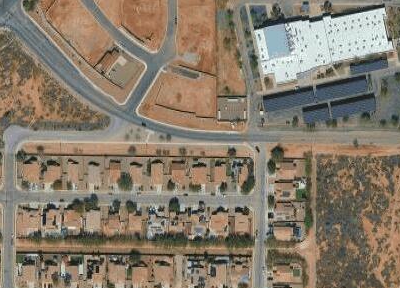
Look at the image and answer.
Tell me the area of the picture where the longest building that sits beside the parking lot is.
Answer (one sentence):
Look in the top right portion of the view to spot the longest building that sits beside the parking lot.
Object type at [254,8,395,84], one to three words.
building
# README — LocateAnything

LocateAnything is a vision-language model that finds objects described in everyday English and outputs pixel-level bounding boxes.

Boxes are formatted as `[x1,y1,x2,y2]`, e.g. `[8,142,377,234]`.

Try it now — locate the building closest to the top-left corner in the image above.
[97,50,124,74]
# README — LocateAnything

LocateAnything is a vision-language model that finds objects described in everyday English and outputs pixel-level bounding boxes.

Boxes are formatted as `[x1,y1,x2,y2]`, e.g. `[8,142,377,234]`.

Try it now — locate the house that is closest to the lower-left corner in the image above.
[20,261,38,286]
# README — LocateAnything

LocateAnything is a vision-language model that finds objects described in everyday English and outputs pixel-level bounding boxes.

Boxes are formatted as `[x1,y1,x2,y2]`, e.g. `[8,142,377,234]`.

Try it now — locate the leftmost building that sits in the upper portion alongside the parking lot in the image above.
[218,97,248,121]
